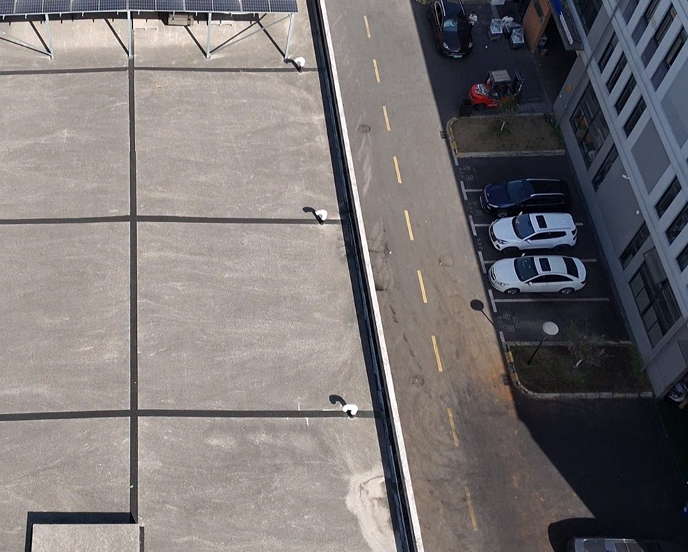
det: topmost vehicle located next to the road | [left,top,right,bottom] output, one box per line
[430,0,477,54]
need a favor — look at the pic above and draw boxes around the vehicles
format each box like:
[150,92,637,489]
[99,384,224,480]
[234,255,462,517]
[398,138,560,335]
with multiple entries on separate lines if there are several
[491,208,583,252]
[430,0,477,54]
[478,173,573,216]
[471,68,530,107]
[567,528,687,552]
[492,249,593,294]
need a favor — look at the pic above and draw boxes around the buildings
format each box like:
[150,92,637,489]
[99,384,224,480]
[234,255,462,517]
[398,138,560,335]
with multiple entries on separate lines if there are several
[514,0,688,491]
[0,0,424,552]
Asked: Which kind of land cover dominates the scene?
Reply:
buildings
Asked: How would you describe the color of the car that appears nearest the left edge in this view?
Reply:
black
